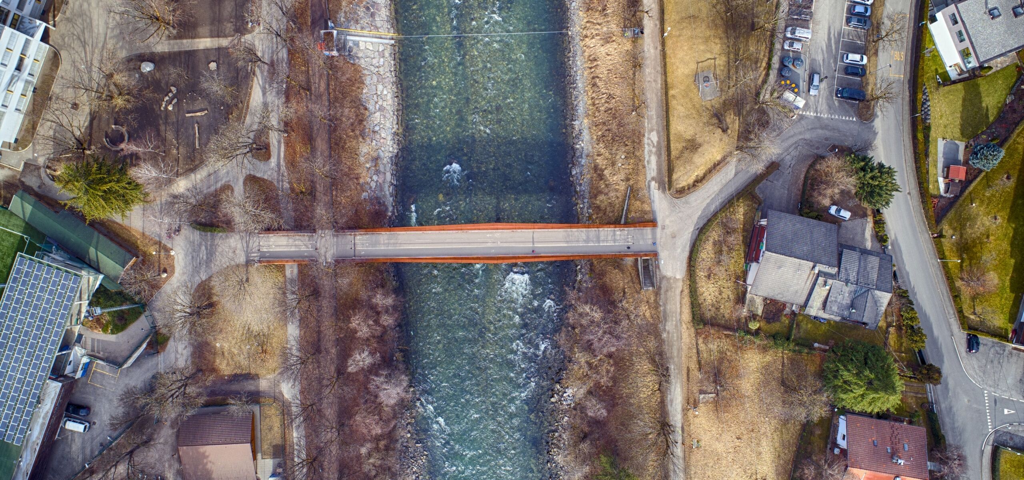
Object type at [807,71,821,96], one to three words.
car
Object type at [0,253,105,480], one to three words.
building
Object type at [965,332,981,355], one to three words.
car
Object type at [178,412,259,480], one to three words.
building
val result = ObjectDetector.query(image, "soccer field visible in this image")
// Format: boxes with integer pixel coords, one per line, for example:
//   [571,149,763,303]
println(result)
[0,204,86,300]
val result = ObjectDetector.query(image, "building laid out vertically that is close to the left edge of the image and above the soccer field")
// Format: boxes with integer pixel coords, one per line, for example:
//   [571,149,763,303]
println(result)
[0,0,61,146]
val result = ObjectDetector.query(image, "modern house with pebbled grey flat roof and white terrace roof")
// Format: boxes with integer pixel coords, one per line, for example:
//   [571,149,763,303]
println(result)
[919,0,1024,81]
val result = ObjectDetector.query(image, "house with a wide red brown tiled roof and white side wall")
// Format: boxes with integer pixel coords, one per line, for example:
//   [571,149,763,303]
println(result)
[833,409,930,480]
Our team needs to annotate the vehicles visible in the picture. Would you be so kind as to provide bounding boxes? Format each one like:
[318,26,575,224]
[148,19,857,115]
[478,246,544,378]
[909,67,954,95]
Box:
[843,65,866,77]
[847,4,872,17]
[64,402,92,416]
[965,332,981,355]
[807,71,821,96]
[836,87,867,101]
[842,52,867,65]
[785,26,812,40]
[847,0,873,5]
[786,0,812,8]
[826,204,852,221]
[845,16,871,29]
[782,38,804,52]
[787,8,814,20]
